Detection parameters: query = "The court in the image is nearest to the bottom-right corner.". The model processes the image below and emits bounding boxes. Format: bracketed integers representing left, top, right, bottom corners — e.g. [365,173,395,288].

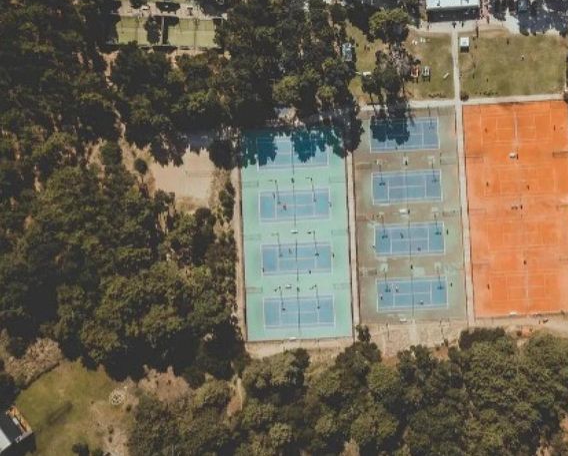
[472,258,568,319]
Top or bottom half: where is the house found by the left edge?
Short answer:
bottom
